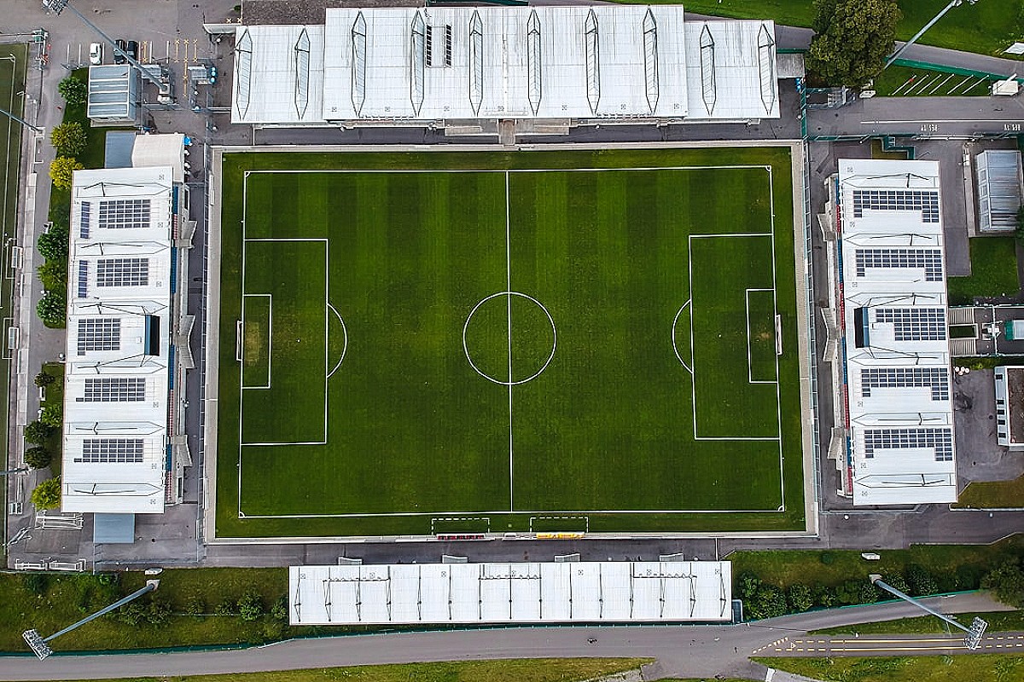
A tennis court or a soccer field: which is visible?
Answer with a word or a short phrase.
soccer field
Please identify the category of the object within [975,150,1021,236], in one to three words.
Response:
building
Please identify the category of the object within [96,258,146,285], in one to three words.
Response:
solar array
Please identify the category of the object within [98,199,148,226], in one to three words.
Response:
solar array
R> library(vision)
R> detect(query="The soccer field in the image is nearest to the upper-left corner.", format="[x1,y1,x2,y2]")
[0,42,28,570]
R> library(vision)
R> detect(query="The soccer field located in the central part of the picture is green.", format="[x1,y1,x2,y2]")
[205,141,816,540]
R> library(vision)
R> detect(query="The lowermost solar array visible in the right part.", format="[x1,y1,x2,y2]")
[865,429,950,461]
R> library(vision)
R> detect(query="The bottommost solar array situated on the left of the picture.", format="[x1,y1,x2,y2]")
[73,438,141,462]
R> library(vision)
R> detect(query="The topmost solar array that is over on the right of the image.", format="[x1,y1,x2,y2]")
[853,189,937,220]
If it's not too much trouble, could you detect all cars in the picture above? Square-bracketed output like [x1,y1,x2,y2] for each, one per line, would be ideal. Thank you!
[89,42,103,63]
[127,41,139,65]
[113,41,126,64]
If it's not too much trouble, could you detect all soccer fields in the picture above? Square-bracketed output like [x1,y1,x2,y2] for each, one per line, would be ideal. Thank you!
[0,42,28,570]
[205,141,816,540]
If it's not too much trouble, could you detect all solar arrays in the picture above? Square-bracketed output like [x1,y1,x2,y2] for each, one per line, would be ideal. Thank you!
[98,199,148,226]
[861,367,946,399]
[75,378,143,401]
[865,429,950,461]
[853,189,937,220]
[79,201,88,236]
[73,438,141,462]
[856,248,940,280]
[96,258,146,285]
[876,308,944,340]
[77,260,86,296]
[76,318,119,355]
